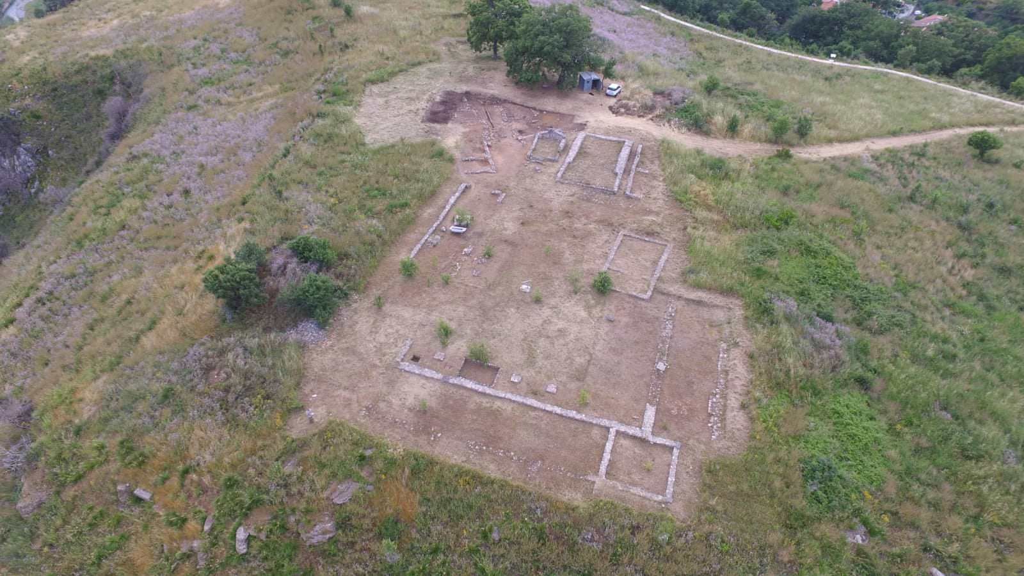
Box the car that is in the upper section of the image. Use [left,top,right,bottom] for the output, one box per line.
[606,83,620,97]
